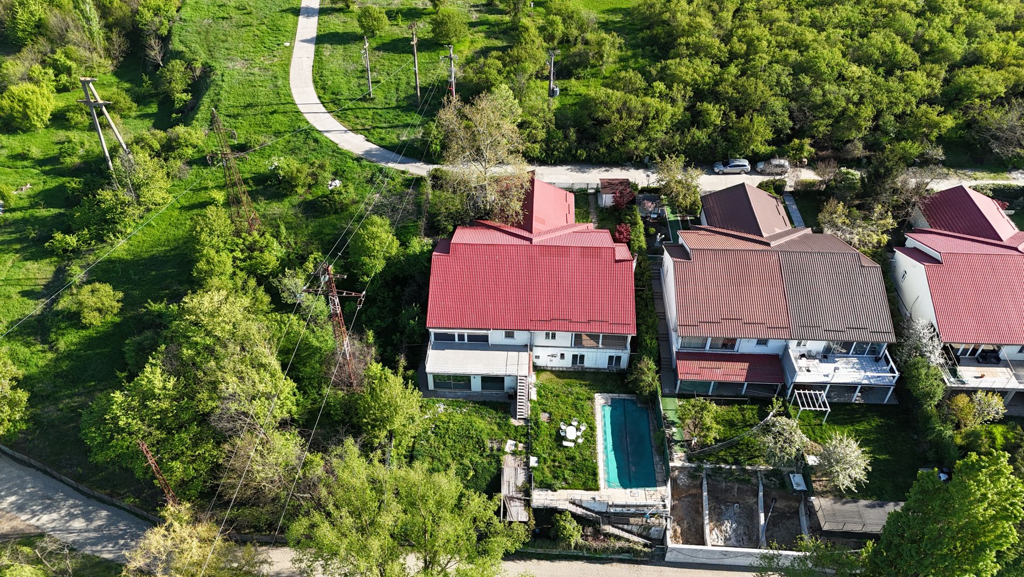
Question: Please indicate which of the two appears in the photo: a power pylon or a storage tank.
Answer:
power pylon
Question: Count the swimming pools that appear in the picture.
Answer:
1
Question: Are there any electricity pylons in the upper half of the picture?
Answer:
Yes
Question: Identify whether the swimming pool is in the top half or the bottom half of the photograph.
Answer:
bottom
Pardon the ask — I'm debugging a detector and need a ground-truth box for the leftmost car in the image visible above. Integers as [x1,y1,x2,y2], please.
[713,159,753,176]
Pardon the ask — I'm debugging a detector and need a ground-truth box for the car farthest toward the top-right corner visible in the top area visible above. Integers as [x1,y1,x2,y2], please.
[755,159,793,176]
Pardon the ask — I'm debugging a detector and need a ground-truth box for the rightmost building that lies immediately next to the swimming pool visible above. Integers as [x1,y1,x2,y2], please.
[661,180,902,404]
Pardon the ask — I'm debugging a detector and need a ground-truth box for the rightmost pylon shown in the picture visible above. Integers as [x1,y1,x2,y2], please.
[304,263,364,378]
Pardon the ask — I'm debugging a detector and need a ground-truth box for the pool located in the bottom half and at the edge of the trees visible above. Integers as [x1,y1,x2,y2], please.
[595,392,668,492]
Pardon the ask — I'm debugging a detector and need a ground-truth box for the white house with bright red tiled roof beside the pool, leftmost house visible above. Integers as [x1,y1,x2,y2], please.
[415,175,640,427]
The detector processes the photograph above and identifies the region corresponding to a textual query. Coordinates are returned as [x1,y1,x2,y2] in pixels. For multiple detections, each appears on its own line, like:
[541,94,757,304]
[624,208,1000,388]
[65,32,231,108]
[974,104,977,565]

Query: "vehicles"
[755,159,793,176]
[713,159,753,176]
